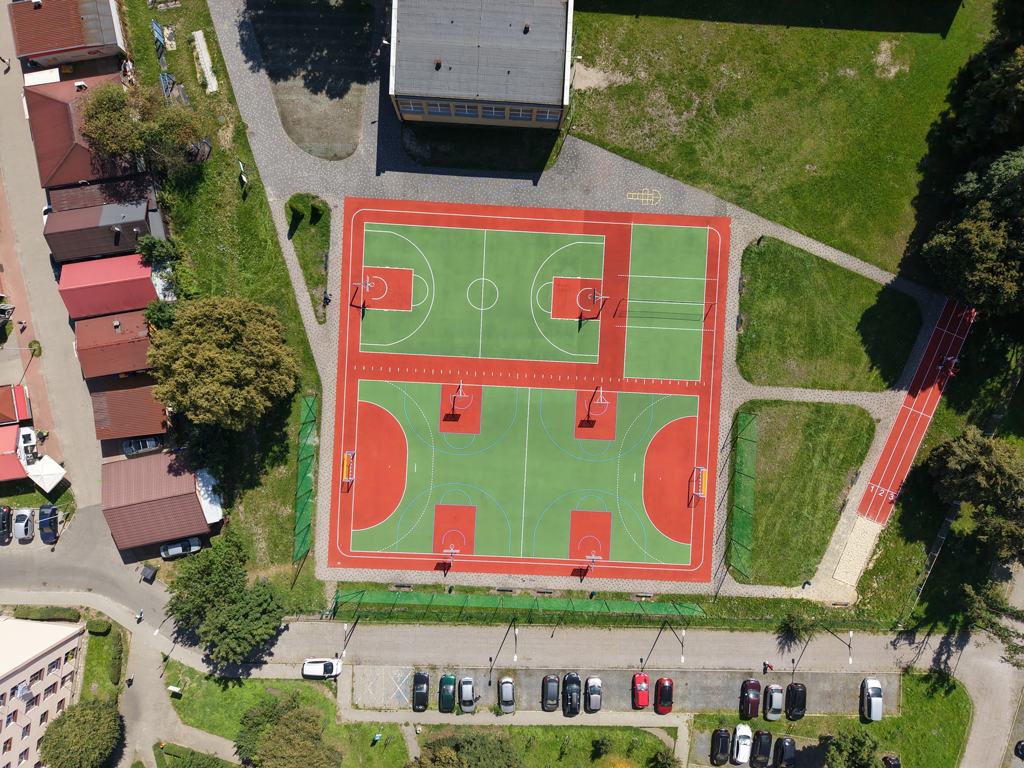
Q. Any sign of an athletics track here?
Yes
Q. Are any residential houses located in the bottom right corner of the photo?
No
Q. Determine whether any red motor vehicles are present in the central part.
No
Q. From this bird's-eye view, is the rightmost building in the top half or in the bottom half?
top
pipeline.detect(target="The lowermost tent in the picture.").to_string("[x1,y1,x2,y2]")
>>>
[28,453,77,493]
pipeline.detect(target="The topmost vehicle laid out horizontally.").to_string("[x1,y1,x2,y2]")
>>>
[122,435,165,456]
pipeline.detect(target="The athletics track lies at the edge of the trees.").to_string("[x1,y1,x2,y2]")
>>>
[855,299,975,526]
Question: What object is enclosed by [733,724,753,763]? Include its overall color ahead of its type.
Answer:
white car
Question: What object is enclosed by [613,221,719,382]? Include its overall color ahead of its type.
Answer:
green sports court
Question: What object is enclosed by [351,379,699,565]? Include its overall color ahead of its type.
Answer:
green sports court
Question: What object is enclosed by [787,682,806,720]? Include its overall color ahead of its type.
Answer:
black car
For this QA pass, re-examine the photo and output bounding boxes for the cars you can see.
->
[787,682,806,720]
[161,537,202,558]
[122,435,165,456]
[458,675,481,712]
[742,678,762,718]
[438,674,457,712]
[775,734,796,768]
[861,677,885,720]
[411,673,430,711]
[0,506,14,543]
[633,671,651,708]
[542,675,560,711]
[498,675,516,713]
[752,728,773,767]
[47,258,67,292]
[713,726,732,766]
[656,677,674,713]
[733,724,753,763]
[38,505,60,543]
[563,673,582,716]
[303,658,342,679]
[585,675,603,711]
[765,683,784,720]
[14,507,35,542]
